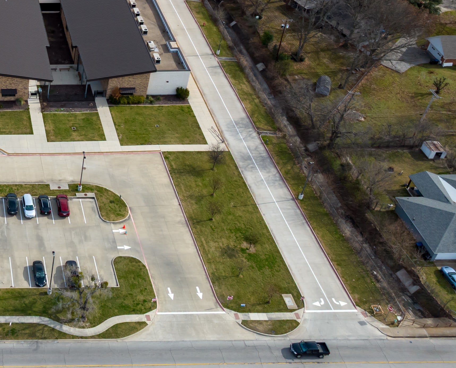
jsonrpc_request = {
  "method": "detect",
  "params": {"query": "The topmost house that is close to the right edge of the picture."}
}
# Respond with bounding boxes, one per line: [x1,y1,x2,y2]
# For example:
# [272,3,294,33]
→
[422,34,456,68]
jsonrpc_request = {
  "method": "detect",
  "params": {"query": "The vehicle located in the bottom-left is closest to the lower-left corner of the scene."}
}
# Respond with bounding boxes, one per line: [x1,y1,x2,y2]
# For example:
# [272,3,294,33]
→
[32,262,48,288]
